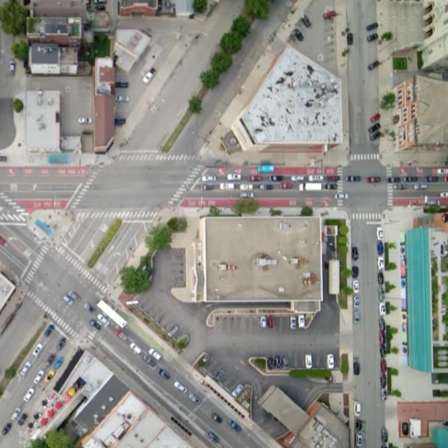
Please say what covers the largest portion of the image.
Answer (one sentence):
What you mostly see from above here is paved ground.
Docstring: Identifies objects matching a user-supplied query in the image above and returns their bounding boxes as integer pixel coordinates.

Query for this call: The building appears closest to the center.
[195,216,322,311]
